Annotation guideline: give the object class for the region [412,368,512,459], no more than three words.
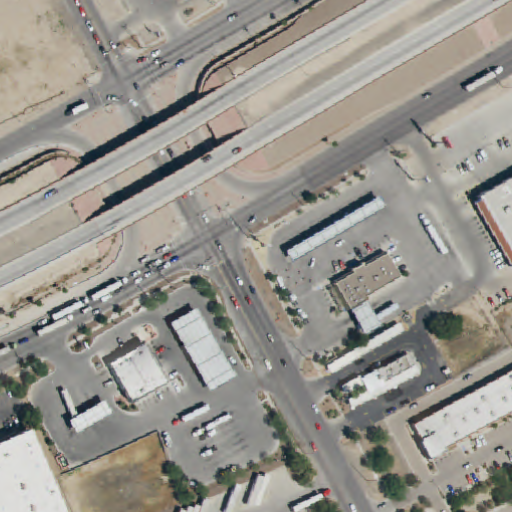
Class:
building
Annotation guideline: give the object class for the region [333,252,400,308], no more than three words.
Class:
building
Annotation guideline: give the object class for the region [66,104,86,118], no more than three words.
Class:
vehicle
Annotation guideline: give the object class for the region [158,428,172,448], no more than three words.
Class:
vehicle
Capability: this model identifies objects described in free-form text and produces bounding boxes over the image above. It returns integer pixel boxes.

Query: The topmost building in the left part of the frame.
[108,344,167,401]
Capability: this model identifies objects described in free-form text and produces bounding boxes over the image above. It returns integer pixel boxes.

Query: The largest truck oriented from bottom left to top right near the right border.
[466,68,499,91]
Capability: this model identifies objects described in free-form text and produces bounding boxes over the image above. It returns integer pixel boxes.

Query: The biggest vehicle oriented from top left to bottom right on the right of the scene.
[420,219,447,253]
